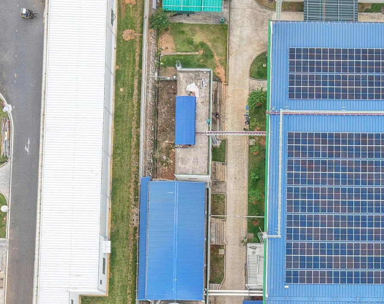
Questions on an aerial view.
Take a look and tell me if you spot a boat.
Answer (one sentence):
No, no boat is visible in the view.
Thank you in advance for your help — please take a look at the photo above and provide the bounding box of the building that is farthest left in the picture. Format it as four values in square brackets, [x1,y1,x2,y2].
[31,0,120,304]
